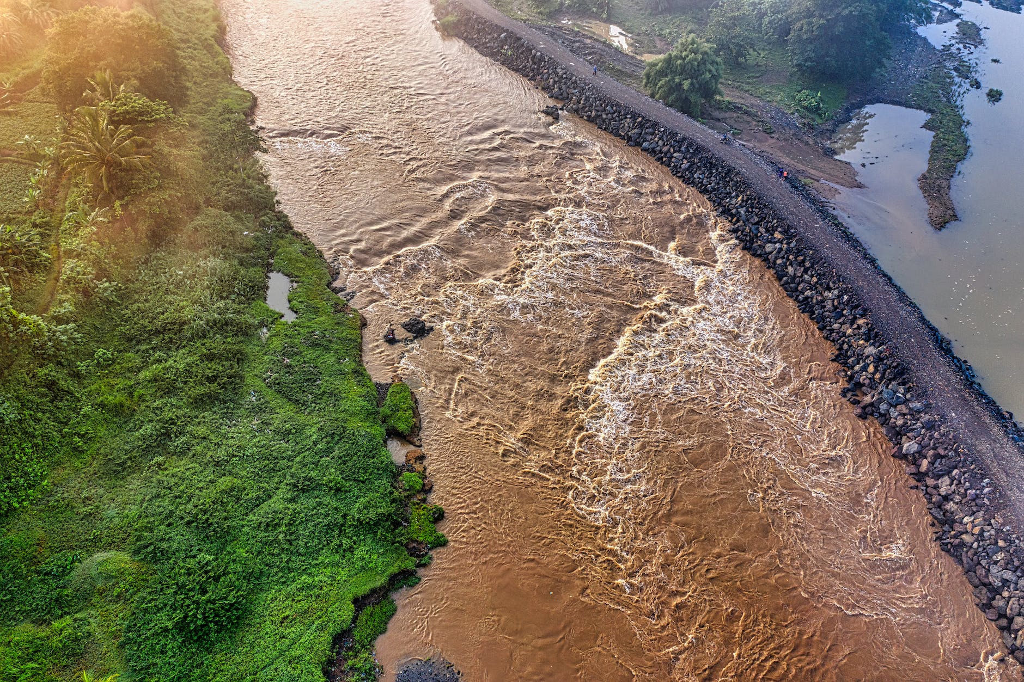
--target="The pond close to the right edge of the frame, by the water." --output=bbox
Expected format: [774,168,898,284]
[745,0,1024,422]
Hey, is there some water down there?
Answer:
Yes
